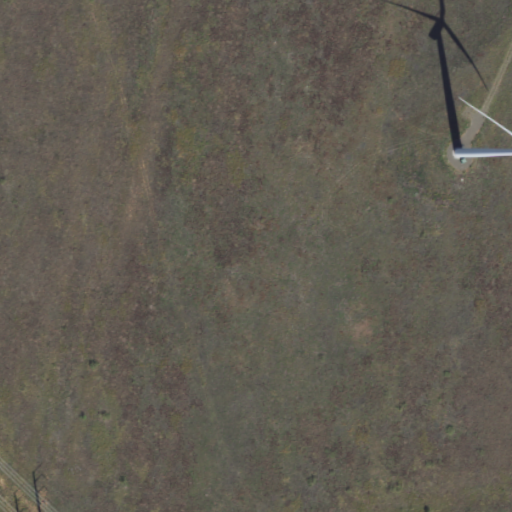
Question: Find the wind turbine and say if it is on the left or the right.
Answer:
right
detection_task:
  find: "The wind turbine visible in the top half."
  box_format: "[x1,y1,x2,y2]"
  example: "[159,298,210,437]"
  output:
[454,102,512,159]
